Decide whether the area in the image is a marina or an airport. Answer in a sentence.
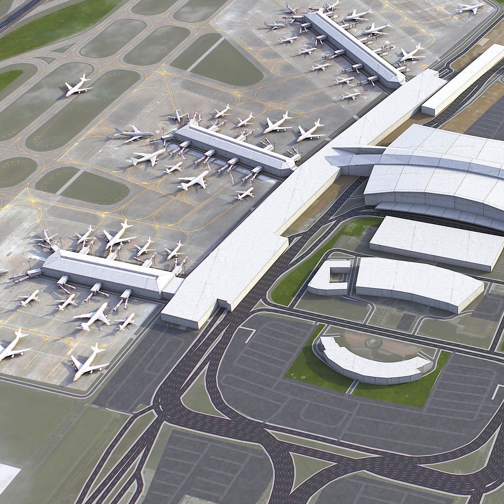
This looks like an airport.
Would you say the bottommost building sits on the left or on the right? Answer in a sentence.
The bottommost building is on the right side of the image.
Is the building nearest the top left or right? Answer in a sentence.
The building nearest the top sits on the right side.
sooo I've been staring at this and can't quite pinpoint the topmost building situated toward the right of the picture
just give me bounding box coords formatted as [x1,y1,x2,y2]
[421,43,504,116]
